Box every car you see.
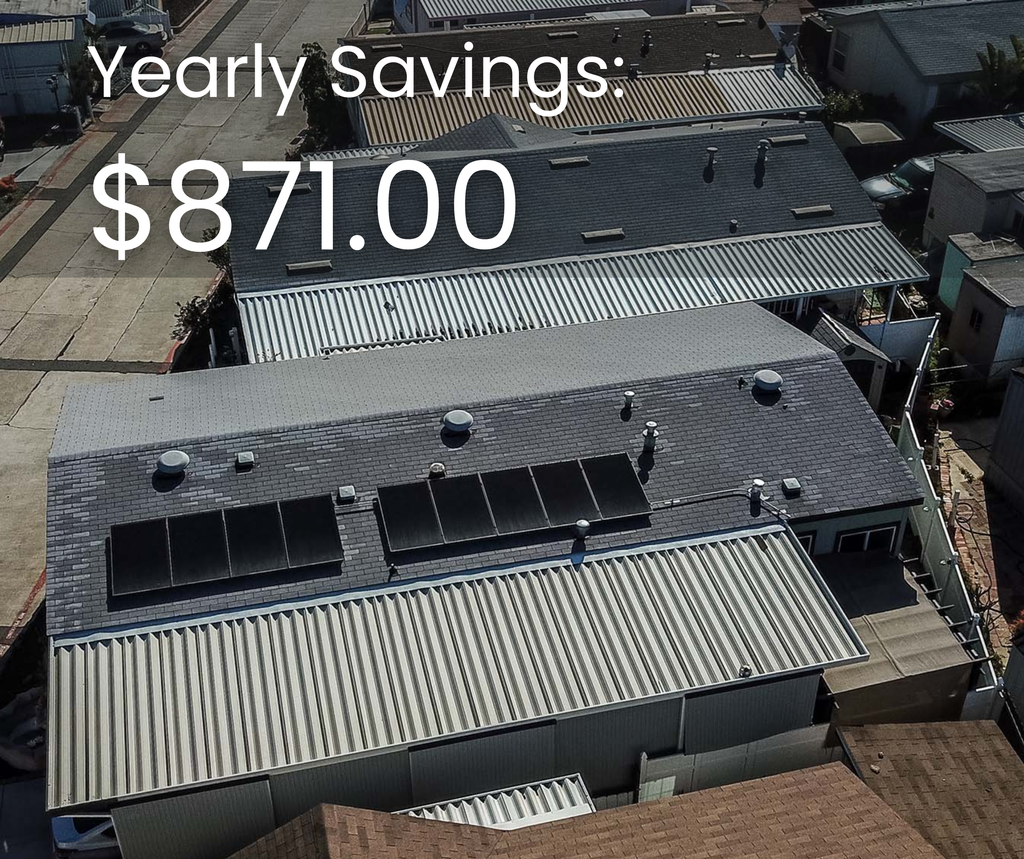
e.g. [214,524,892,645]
[858,152,966,222]
[53,757,318,859]
[84,7,179,48]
